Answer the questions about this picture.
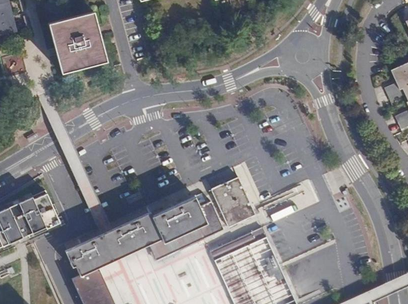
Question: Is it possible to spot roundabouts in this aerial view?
Yes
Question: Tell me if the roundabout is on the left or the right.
right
